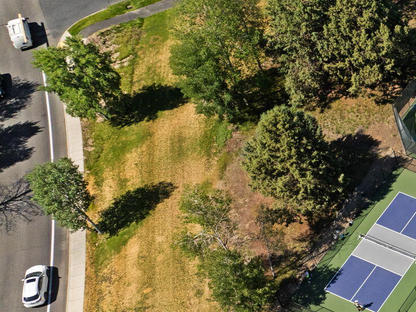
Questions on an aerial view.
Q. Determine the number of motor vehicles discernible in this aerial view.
two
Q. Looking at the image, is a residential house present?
No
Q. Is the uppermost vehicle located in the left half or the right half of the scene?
left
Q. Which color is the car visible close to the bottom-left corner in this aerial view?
white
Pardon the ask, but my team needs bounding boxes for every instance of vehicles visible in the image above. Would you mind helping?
[7,18,33,48]
[19,264,48,307]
